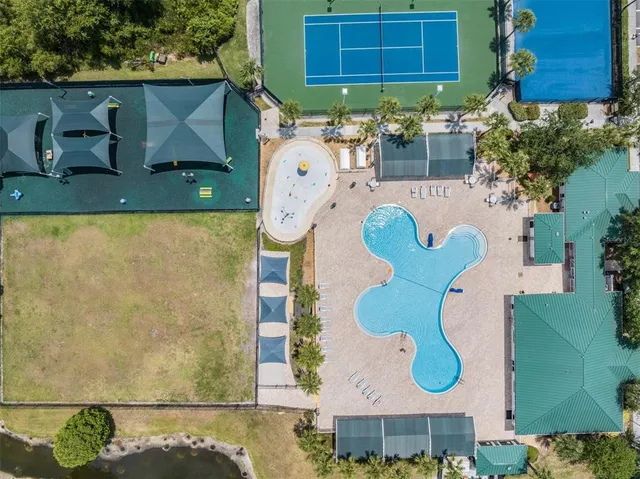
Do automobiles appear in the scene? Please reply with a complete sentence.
No, no automobile is visible in the scene.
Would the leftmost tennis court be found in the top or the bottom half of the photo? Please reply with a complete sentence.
The leftmost tennis court is in the top half of the image.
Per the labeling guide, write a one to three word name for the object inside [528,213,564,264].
shed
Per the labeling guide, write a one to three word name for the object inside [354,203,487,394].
swimming pool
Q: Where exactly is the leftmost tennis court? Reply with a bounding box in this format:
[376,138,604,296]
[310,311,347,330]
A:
[264,0,496,101]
